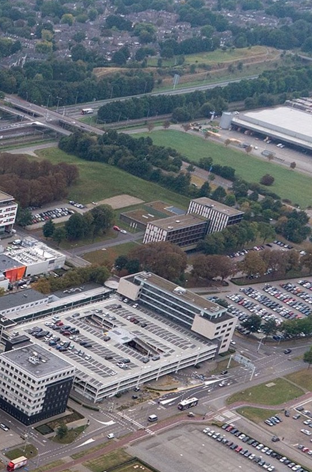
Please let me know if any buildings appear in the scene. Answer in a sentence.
Yes, the image includes a building.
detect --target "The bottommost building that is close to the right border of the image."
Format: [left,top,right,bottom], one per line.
[234,100,312,159]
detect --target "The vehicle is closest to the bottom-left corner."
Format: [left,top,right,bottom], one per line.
[5,454,29,472]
